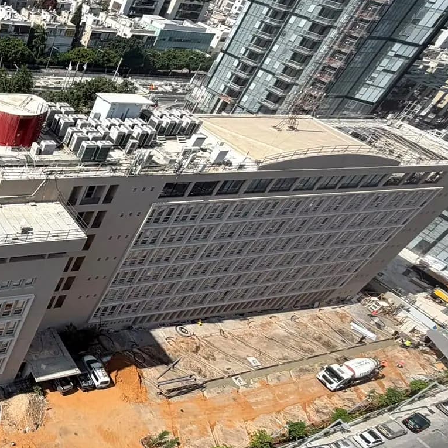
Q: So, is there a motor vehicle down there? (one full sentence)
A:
Yes, looking at the shot, I can spot a motor vehicle.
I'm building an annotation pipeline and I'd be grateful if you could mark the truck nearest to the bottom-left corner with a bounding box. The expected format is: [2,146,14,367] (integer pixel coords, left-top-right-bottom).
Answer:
[56,376,79,400]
